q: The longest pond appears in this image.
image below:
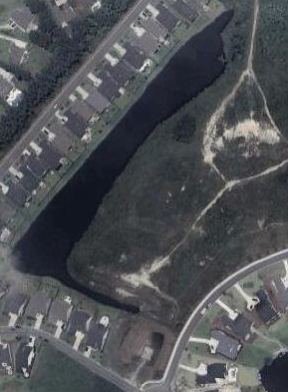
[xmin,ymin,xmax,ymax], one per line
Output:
[14,12,233,313]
